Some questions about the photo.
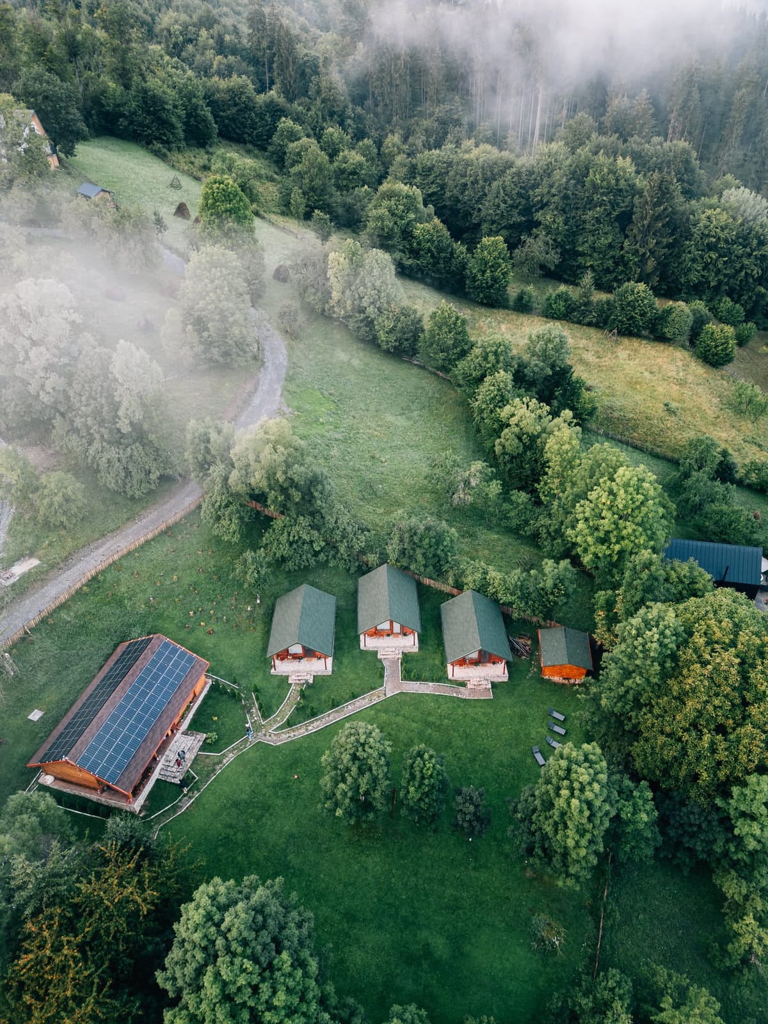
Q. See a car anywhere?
No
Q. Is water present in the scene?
No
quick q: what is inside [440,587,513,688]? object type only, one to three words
building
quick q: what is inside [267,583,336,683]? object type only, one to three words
building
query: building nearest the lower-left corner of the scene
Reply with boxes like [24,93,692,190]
[25,633,213,812]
